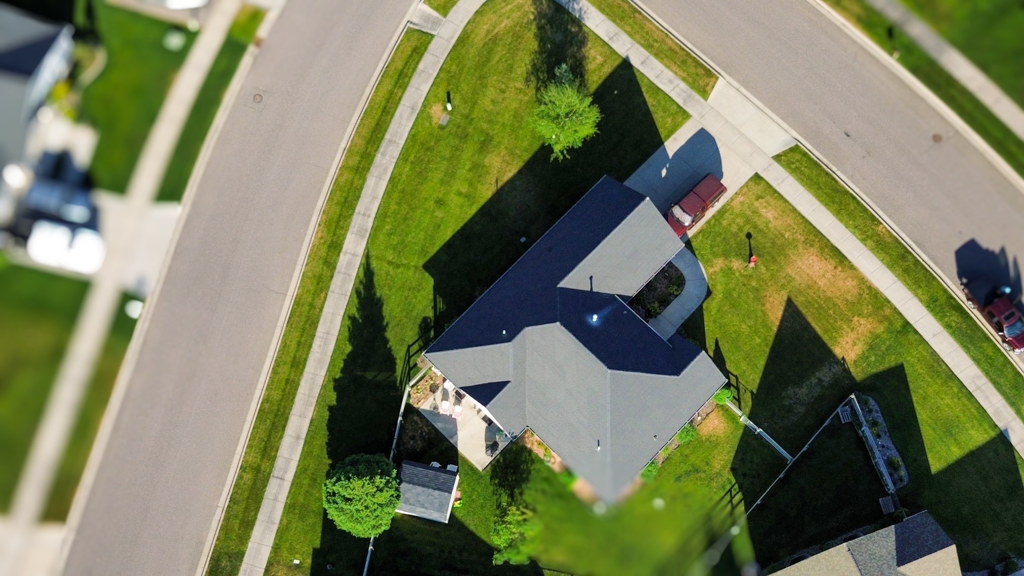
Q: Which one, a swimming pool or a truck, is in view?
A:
truck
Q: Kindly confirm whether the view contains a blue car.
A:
Yes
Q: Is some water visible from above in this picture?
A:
No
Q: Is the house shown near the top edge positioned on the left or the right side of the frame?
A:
left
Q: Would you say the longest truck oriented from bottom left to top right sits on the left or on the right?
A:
right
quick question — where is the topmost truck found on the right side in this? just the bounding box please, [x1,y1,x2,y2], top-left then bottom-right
[664,174,724,236]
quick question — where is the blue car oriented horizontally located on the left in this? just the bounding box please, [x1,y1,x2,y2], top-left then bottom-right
[24,181,103,224]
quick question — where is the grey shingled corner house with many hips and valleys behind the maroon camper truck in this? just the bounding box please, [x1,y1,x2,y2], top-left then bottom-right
[422,175,728,509]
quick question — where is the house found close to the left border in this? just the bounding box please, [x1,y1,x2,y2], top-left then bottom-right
[0,0,74,161]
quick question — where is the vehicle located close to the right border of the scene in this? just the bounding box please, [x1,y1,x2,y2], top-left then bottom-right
[960,278,1024,359]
